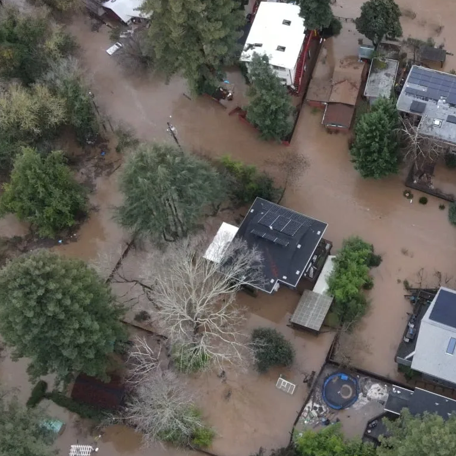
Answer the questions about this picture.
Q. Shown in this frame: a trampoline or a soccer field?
trampoline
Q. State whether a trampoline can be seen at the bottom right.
Yes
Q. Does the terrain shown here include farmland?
No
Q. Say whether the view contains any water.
Yes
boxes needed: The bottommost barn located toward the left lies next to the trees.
[70,372,129,415]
